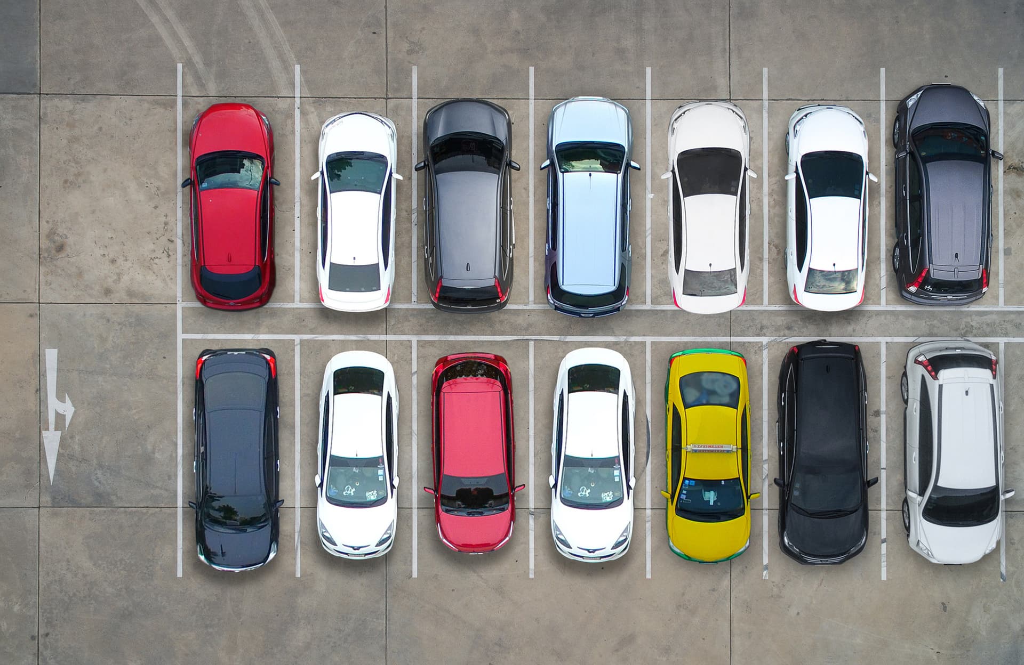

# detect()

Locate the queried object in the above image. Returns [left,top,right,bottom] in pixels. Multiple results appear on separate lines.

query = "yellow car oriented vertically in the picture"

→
[662,349,760,566]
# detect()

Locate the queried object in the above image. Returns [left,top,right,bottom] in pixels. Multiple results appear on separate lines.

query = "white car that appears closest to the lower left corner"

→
[313,351,401,559]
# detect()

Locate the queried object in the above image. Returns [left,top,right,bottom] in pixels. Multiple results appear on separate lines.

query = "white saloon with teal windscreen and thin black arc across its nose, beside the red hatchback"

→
[311,111,402,311]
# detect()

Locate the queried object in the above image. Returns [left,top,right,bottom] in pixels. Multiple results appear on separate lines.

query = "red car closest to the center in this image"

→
[424,353,525,553]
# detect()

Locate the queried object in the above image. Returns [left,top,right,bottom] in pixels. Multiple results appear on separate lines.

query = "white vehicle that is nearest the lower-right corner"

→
[905,341,1012,568]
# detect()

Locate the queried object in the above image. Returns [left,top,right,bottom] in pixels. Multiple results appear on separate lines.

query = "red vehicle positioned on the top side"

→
[181,103,279,311]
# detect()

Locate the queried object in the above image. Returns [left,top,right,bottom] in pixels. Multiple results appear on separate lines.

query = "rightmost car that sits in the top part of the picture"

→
[895,81,1002,305]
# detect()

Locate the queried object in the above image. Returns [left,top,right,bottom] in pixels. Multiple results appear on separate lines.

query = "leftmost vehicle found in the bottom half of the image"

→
[188,349,283,571]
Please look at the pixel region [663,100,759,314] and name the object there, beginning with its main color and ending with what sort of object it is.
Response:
white car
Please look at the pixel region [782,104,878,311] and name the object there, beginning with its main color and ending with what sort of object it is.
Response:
white car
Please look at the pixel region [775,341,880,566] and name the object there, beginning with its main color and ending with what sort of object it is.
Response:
black car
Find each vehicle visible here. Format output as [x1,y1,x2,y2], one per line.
[550,348,638,562]
[895,81,1002,305]
[662,349,760,566]
[313,351,401,559]
[782,104,878,311]
[188,349,283,571]
[181,103,279,311]
[424,353,525,553]
[415,98,521,314]
[541,97,641,318]
[775,341,880,566]
[905,341,1012,568]
[663,100,759,314]
[311,111,402,311]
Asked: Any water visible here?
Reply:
No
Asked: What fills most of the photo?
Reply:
paved ground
